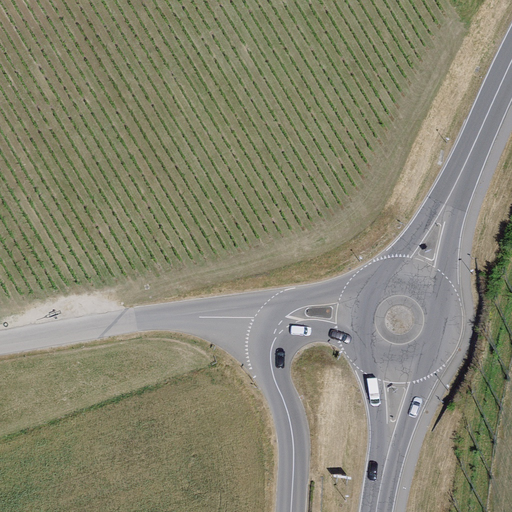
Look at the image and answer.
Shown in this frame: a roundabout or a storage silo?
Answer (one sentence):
Visible in the photo is a roundabout.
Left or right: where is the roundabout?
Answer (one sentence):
The roundabout sits on the right side.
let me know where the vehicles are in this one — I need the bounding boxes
[275,348,286,368]
[329,330,352,344]
[367,377,382,406]
[290,326,312,336]
[410,398,422,418]
[368,460,378,480]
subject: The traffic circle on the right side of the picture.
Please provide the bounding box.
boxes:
[338,258,462,382]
